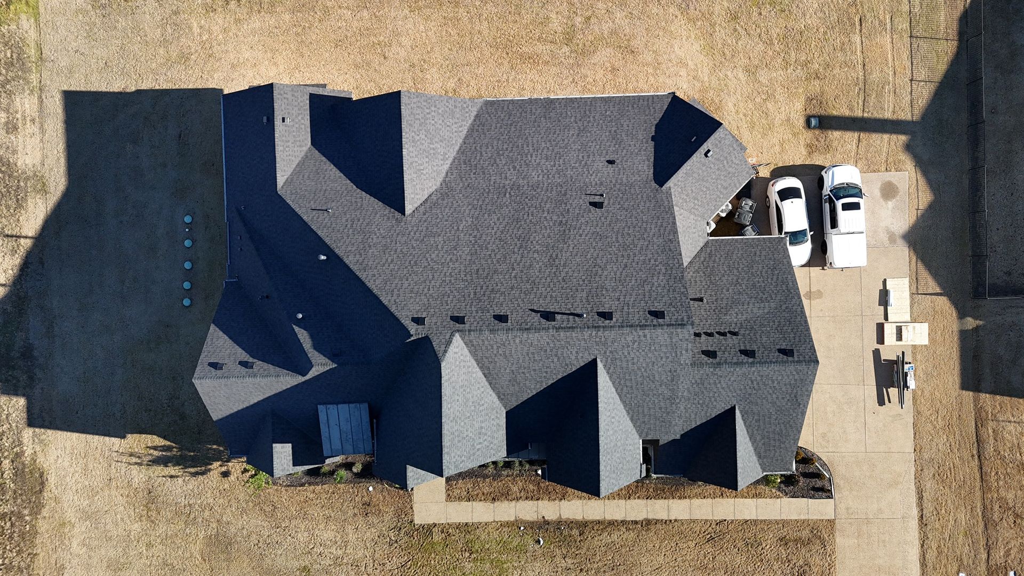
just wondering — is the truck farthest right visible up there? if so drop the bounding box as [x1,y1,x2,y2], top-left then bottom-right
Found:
[816,166,869,274]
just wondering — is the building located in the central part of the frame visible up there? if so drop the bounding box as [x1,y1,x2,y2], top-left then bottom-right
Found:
[193,81,819,497]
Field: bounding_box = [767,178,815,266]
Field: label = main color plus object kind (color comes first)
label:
white car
